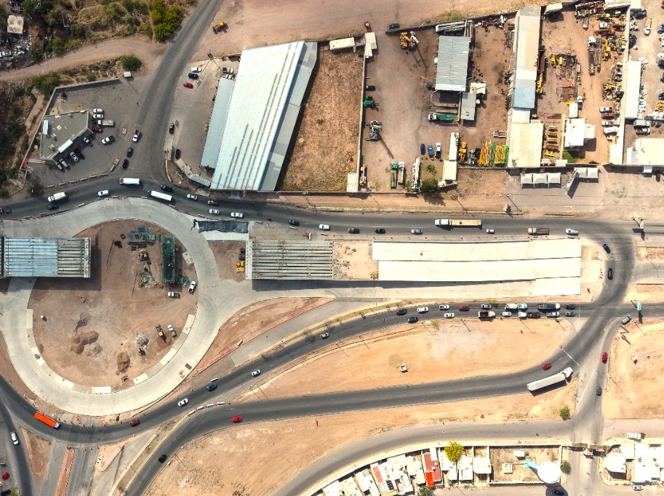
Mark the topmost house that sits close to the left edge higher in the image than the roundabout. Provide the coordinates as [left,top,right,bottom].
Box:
[7,16,24,36]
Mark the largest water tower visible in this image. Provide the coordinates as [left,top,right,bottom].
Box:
[524,460,562,485]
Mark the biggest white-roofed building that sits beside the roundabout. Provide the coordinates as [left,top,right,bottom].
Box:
[200,42,317,193]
